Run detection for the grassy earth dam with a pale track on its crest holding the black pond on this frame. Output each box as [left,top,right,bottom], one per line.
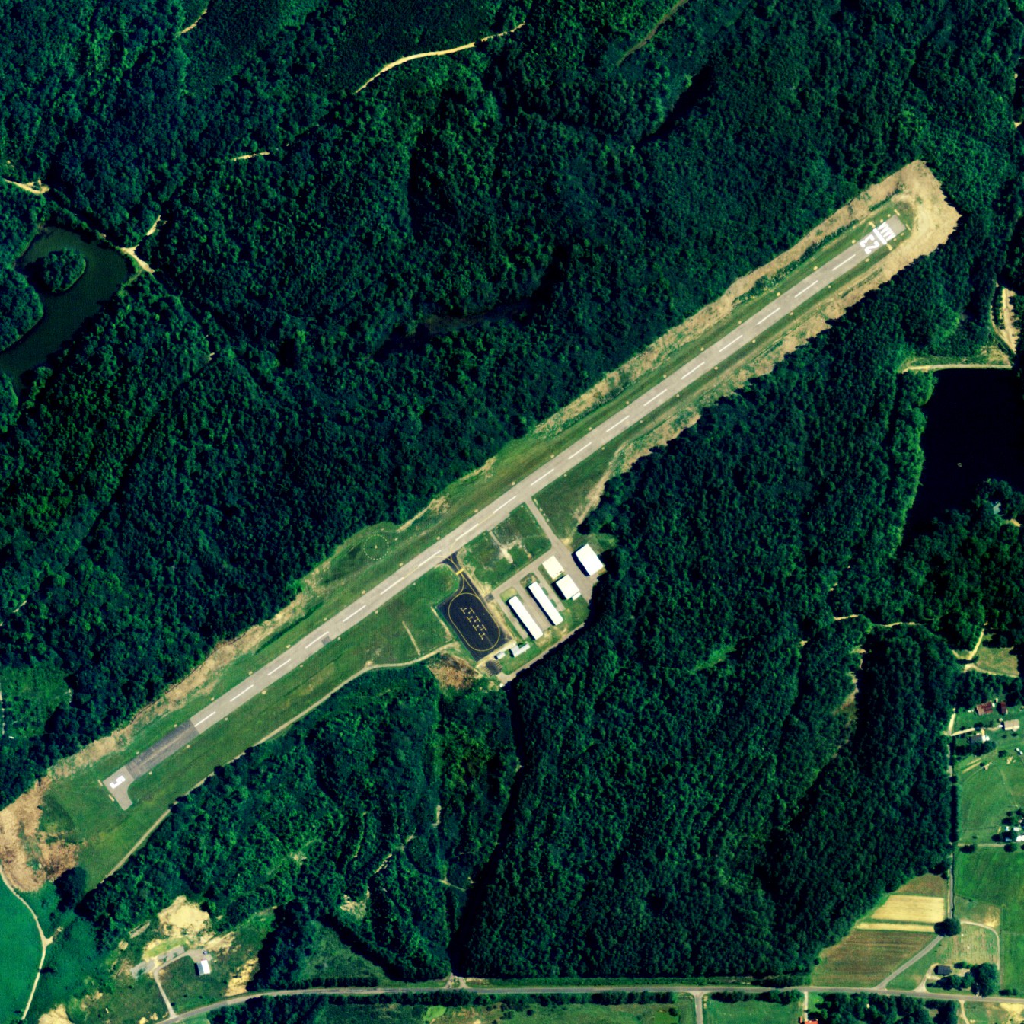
[897,344,1012,375]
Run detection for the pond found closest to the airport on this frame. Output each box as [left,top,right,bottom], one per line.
[901,367,1024,554]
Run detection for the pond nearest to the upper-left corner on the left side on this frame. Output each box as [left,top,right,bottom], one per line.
[0,225,127,403]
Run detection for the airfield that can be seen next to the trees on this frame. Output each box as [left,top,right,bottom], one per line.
[38,198,914,896]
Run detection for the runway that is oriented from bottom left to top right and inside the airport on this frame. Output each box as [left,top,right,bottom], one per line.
[103,215,905,810]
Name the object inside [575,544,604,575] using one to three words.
hangar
